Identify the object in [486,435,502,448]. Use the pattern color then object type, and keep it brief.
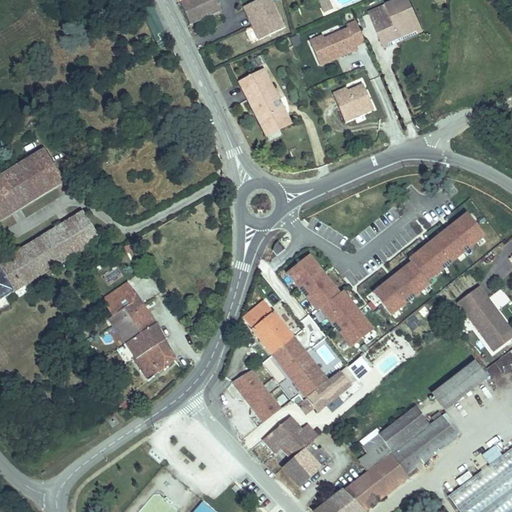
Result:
white vehicle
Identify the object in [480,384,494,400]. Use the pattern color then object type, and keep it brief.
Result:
white vehicle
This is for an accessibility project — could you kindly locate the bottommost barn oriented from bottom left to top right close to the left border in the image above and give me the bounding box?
[0,210,97,291]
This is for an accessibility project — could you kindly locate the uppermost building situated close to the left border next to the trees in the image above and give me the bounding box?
[0,148,62,220]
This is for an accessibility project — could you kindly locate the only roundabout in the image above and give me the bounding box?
[236,178,286,228]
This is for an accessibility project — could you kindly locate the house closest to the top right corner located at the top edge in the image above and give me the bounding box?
[368,0,422,48]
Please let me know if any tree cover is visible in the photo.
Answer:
Yes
